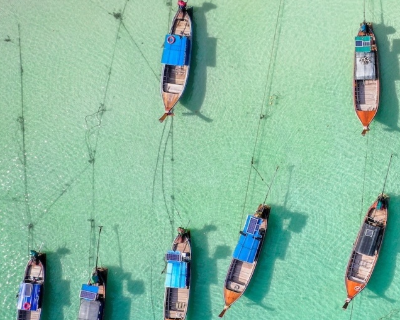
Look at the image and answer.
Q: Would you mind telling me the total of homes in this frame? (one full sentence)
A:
The photo contains no homes.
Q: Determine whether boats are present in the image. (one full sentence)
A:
Yes, there is a boat in the image.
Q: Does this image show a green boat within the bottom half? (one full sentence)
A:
No, the scene shows no green boat within the bottom half.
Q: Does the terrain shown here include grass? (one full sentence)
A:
No, there is no grass in the image.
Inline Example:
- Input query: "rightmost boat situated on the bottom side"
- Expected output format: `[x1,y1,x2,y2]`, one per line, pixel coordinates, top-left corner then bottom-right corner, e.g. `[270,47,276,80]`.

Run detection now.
[342,155,392,311]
